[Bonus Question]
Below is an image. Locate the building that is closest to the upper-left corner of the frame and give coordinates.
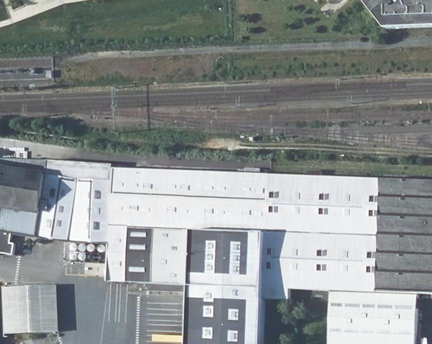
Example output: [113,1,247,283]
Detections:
[0,54,56,86]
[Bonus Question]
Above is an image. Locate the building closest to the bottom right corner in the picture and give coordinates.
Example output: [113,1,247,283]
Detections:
[327,292,421,344]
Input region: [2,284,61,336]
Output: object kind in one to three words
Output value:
shed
